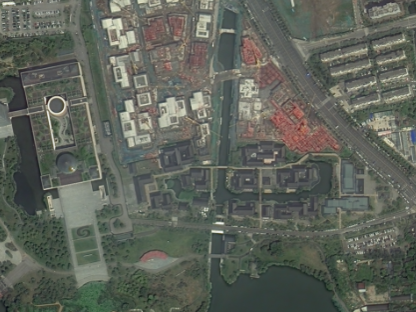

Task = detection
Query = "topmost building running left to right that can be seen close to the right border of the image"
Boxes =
[367,2,401,22]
